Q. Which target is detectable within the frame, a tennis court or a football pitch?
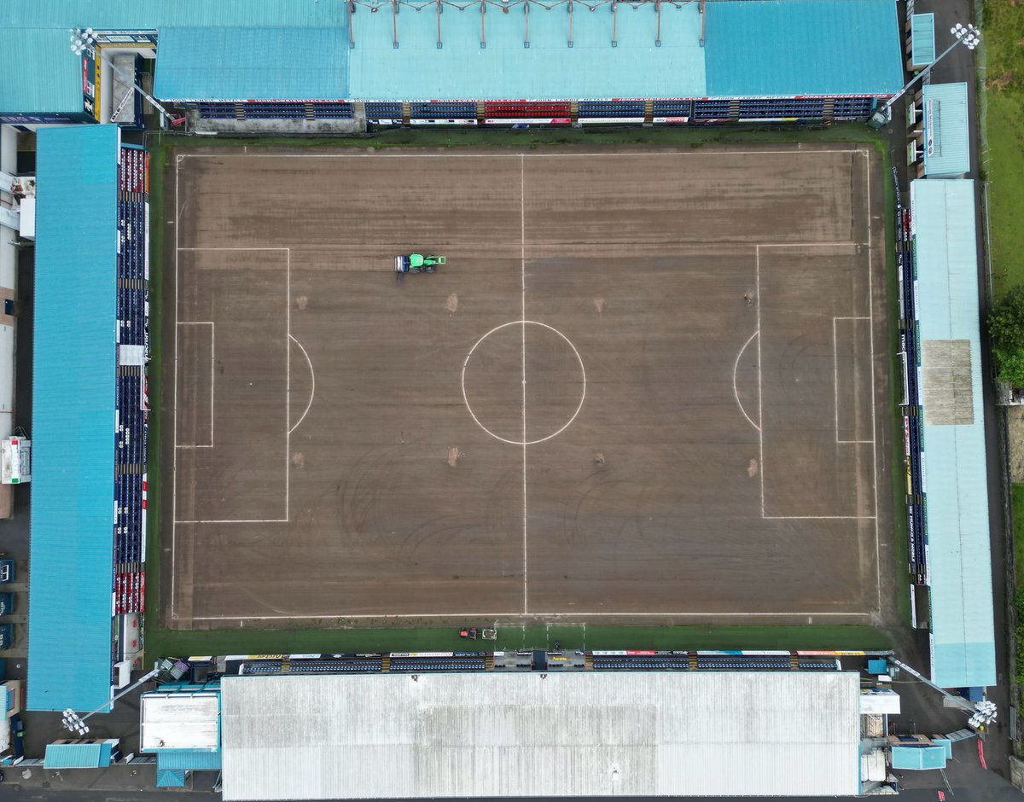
football pitch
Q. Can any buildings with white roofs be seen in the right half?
Yes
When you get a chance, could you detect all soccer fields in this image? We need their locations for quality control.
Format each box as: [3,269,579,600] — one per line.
[137,128,914,661]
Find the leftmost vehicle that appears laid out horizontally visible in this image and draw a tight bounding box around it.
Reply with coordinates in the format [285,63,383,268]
[407,256,446,275]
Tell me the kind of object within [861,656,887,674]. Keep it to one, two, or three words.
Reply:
shed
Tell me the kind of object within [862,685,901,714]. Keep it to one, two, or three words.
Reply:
building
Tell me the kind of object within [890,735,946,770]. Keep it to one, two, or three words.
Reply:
house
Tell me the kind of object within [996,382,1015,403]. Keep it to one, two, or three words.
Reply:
shed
